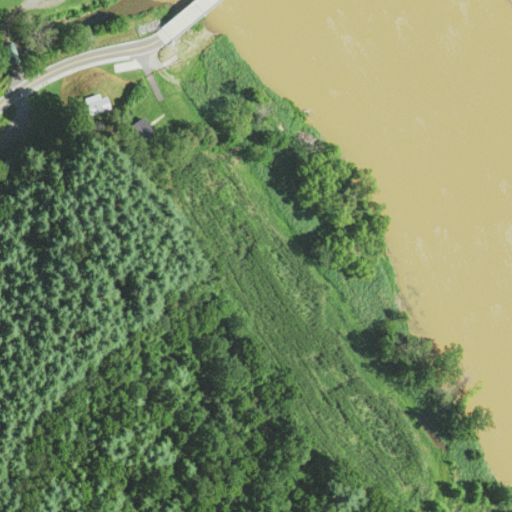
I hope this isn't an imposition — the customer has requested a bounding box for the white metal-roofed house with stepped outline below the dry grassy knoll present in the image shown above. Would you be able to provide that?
[82,93,112,118]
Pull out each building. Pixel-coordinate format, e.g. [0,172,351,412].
[82,93,112,118]
[134,116,154,136]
